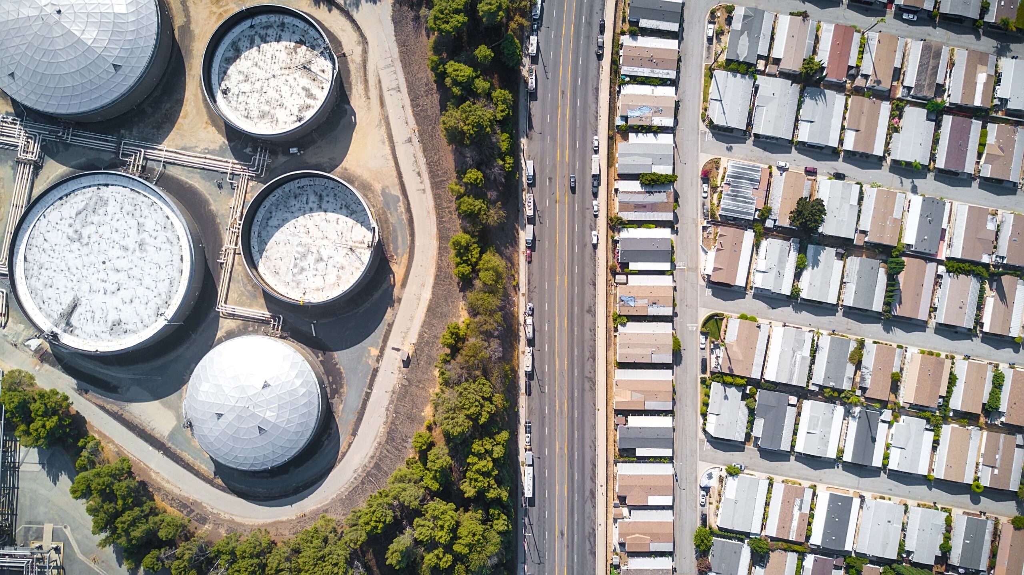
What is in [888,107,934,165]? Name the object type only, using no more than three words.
house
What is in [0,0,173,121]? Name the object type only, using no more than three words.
storage tank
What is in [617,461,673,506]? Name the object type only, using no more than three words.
house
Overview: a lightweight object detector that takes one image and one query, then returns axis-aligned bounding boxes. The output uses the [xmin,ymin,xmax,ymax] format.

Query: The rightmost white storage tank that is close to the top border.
[201,4,347,141]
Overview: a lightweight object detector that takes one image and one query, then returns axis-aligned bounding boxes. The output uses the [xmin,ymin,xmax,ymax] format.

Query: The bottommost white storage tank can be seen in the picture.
[183,334,327,470]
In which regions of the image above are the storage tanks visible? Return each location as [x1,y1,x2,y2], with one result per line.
[201,4,347,141]
[0,0,173,121]
[183,334,327,470]
[8,170,205,353]
[241,171,377,309]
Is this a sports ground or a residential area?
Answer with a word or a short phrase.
residential area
